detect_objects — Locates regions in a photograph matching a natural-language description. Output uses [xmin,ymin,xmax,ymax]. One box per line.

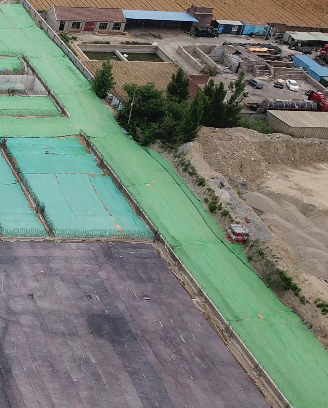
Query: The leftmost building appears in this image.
[46,1,130,37]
